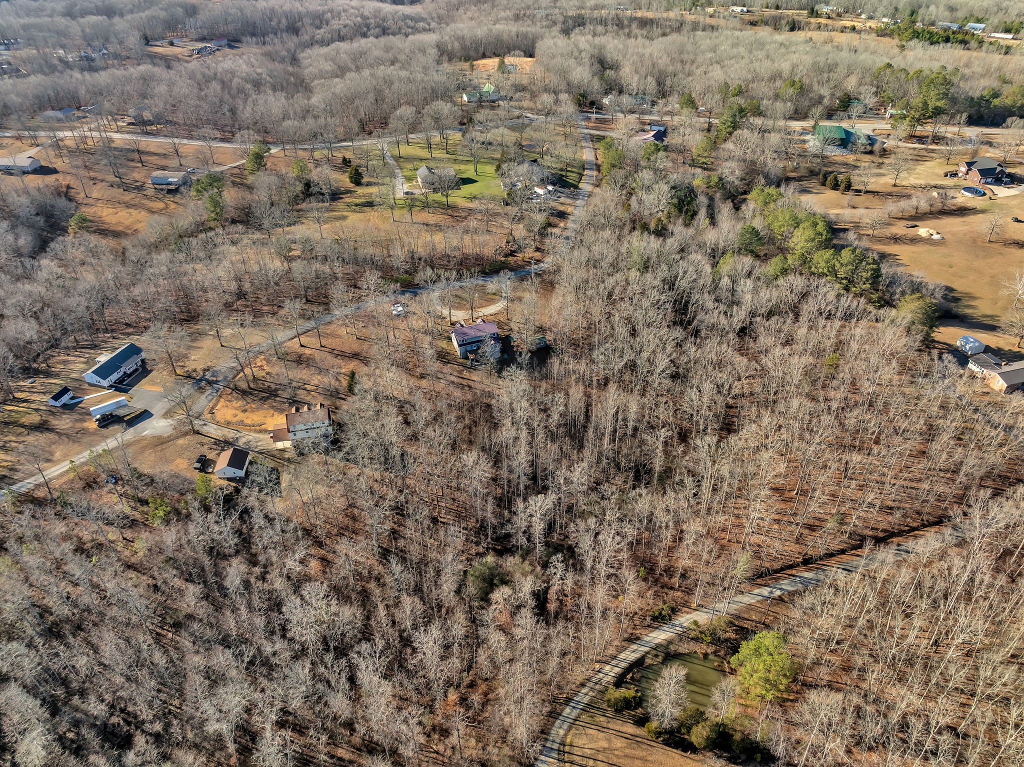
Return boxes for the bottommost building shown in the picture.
[212,438,256,479]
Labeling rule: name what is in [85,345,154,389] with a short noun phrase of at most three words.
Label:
house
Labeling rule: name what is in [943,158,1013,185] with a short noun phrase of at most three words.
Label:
house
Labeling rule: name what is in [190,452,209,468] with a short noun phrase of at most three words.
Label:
vehicle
